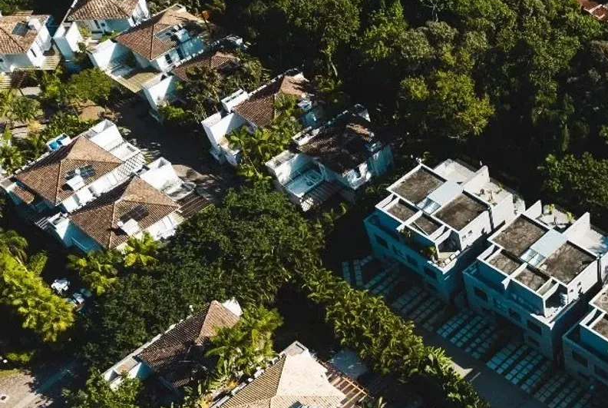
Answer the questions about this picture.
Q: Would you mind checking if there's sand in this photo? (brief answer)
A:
No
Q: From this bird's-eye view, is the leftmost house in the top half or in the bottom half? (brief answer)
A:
top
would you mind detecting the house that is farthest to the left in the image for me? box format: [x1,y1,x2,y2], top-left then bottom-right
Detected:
[0,10,67,103]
